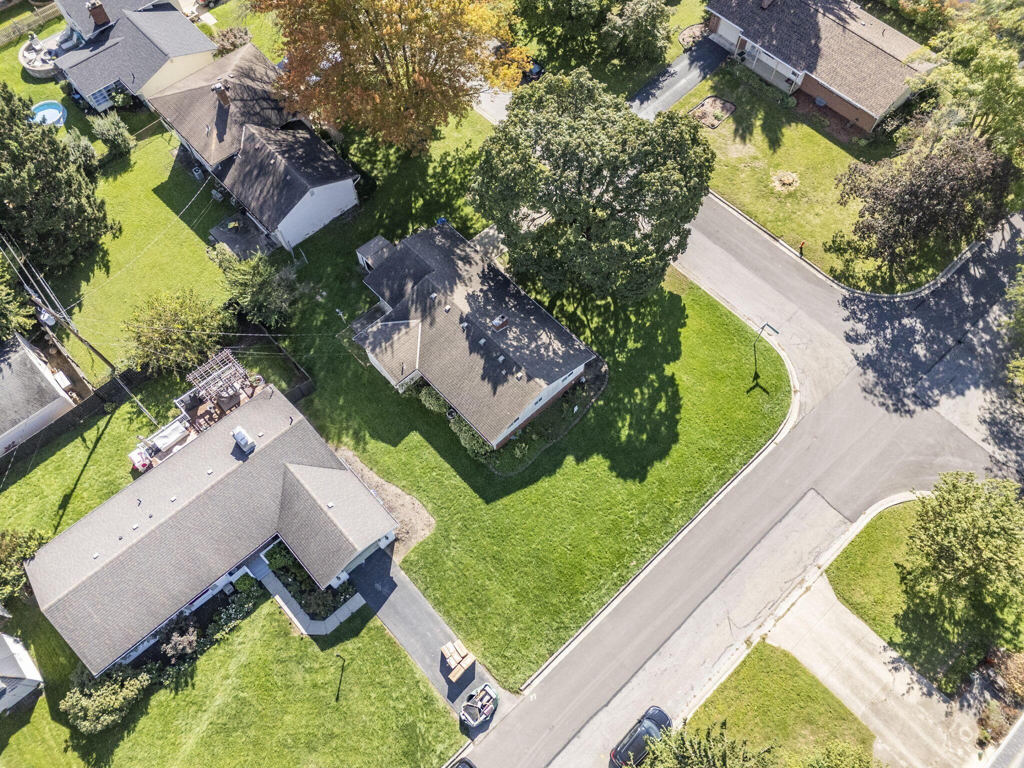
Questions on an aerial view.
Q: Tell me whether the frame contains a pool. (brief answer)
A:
Yes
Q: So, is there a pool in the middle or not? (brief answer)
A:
No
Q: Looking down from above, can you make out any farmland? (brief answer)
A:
No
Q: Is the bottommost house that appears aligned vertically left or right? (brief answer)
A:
left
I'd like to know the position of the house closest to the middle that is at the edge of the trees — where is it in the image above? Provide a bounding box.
[352,224,597,452]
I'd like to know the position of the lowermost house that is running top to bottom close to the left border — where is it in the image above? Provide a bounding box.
[0,624,44,717]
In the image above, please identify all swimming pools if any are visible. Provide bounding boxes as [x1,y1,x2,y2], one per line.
[29,100,73,132]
